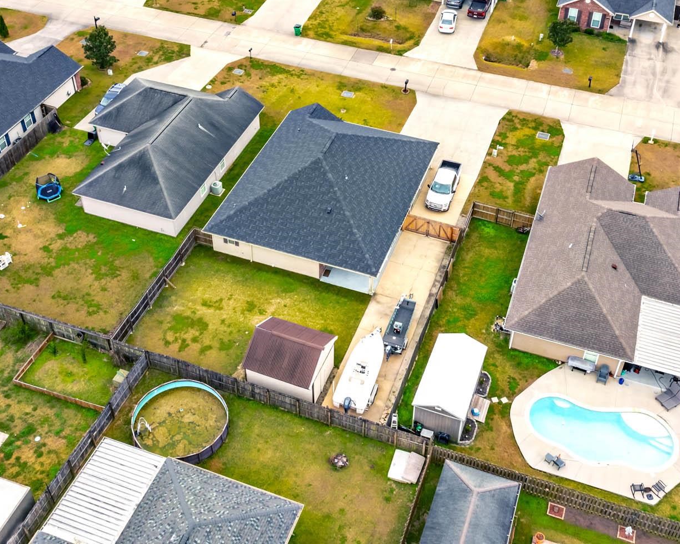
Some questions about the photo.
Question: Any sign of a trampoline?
Yes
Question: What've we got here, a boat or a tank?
boat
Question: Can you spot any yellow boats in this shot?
No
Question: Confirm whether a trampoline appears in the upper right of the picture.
No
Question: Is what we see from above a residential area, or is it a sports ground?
residential area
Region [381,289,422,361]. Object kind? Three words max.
boat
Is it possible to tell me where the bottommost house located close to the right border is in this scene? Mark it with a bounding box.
[503,158,680,392]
